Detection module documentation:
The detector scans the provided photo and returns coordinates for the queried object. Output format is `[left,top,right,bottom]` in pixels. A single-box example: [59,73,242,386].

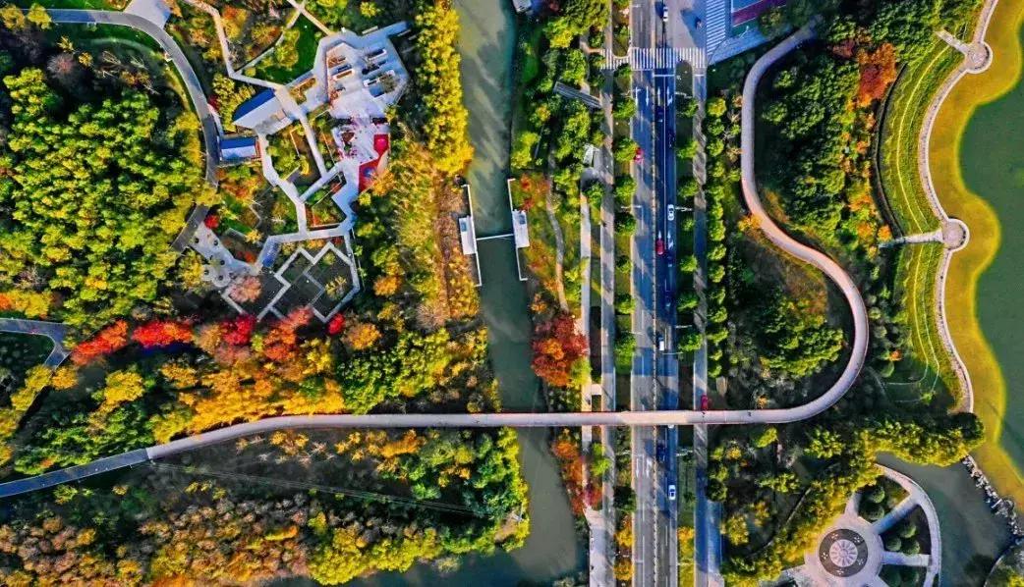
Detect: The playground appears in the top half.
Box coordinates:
[360,134,390,192]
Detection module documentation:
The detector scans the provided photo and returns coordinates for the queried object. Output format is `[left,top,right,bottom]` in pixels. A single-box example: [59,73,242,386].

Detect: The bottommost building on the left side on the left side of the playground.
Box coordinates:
[220,136,261,162]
